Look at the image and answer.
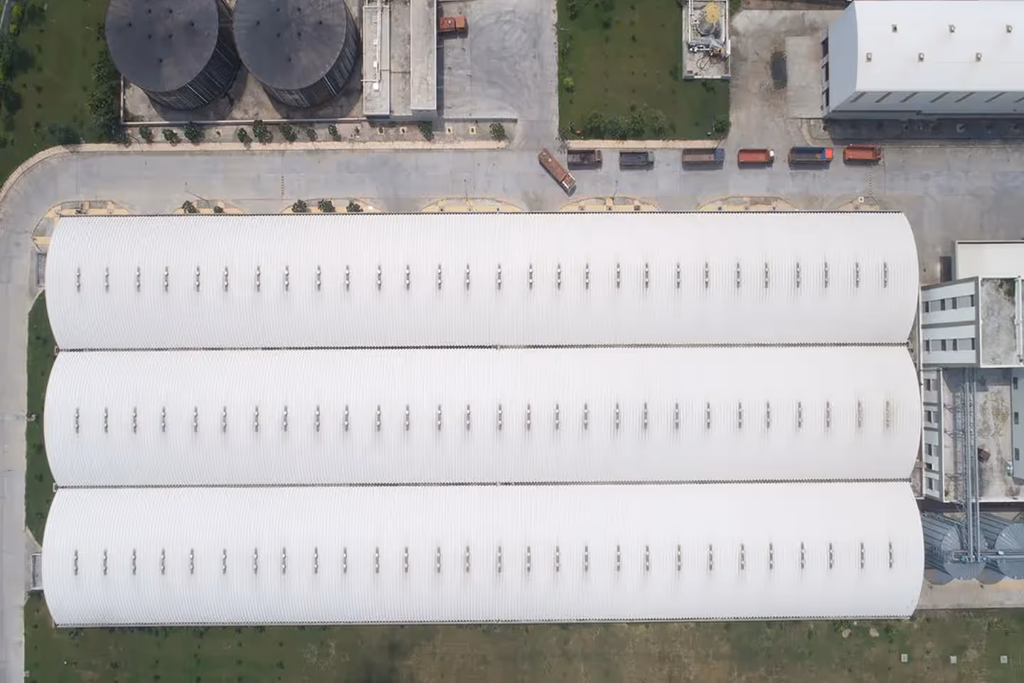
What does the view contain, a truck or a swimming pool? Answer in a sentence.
The one in the frame is a truck.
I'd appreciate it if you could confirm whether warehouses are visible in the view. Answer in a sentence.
Yes, you can see a warehouse in this photo.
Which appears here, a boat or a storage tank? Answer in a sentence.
The one in the frame is a storage tank.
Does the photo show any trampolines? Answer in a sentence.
No, no trampoline is visible in the view.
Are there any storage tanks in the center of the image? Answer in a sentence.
No, no storage tank appears in the center of the image.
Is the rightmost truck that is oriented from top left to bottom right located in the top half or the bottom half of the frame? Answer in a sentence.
It is in the top half that the rightmost truck that is oriented from top left to bottom right appears.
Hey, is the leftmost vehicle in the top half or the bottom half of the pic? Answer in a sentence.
It is in the top half that the leftmost vehicle appears.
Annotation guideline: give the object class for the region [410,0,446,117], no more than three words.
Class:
building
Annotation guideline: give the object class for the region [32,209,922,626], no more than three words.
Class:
warehouse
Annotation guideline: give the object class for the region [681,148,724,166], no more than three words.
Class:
vehicle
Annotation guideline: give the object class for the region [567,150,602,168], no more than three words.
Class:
vehicle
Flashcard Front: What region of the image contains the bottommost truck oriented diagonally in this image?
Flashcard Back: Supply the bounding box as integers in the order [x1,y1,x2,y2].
[536,148,578,198]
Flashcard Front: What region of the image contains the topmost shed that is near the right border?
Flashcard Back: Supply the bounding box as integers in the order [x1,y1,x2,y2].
[823,1,1024,120]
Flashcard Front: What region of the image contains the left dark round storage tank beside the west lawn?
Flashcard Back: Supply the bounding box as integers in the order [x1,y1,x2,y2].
[104,0,241,112]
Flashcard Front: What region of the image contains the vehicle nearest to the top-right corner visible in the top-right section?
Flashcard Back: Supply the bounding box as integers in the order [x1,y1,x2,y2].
[841,146,882,163]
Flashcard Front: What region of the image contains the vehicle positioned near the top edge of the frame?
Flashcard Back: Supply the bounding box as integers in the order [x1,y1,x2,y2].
[437,17,468,37]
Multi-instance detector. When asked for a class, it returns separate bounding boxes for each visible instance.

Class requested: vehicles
[736,148,774,166]
[619,151,653,169]
[681,148,724,166]
[437,17,468,37]
[567,150,602,168]
[841,146,882,163]
[787,147,833,165]
[536,148,578,198]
